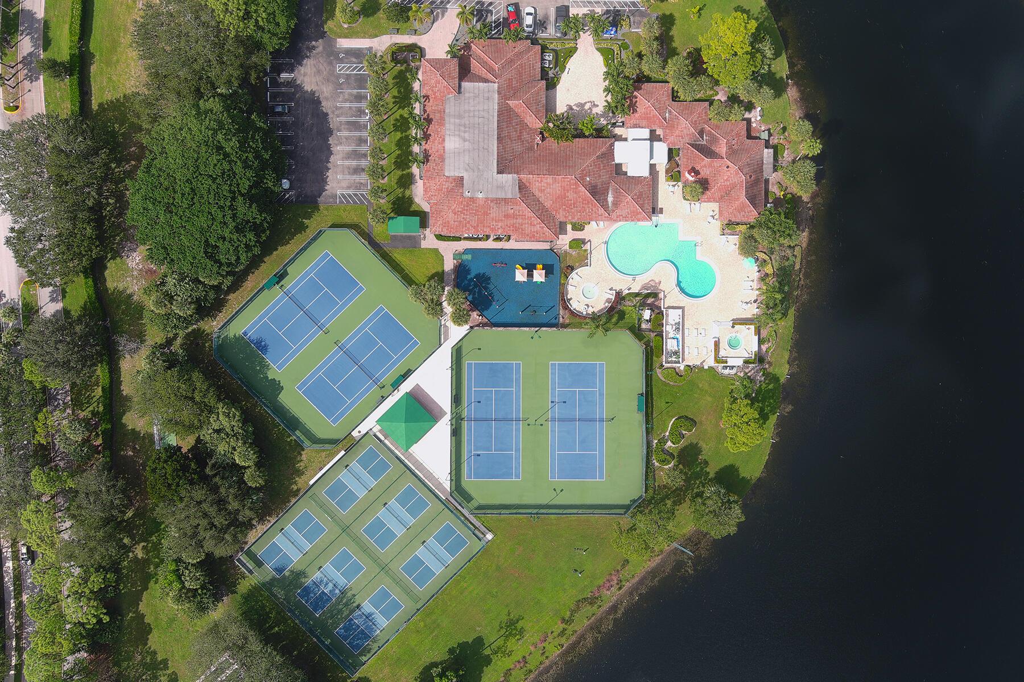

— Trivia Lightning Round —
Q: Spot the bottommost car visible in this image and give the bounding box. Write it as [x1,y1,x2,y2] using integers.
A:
[19,542,35,565]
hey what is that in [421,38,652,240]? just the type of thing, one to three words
building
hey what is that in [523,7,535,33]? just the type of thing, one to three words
vehicle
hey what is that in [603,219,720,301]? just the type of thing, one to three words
swimming pool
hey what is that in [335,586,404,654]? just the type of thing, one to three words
sports court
